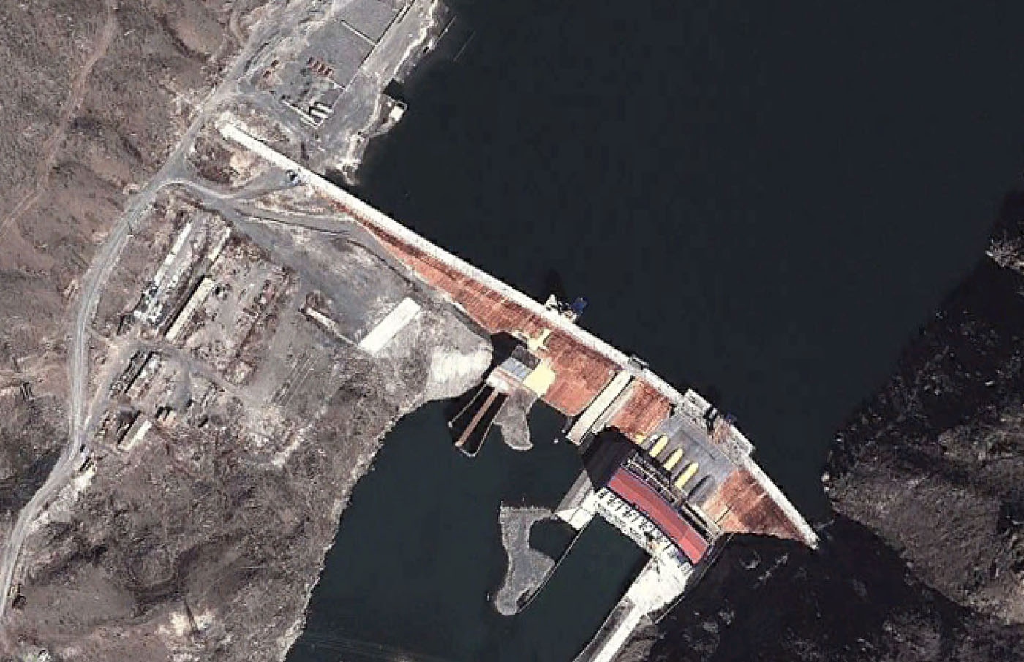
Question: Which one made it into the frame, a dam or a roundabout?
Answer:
dam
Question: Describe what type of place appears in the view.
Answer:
port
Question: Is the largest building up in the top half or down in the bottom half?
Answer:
bottom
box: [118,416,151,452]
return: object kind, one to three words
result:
shed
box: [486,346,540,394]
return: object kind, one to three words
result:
building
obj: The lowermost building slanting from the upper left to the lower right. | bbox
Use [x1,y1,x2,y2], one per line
[605,468,708,566]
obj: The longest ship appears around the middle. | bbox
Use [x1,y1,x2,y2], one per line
[573,296,588,315]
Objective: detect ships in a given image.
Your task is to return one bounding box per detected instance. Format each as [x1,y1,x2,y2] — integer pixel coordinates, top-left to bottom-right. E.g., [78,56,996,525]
[727,412,738,422]
[573,296,588,315]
